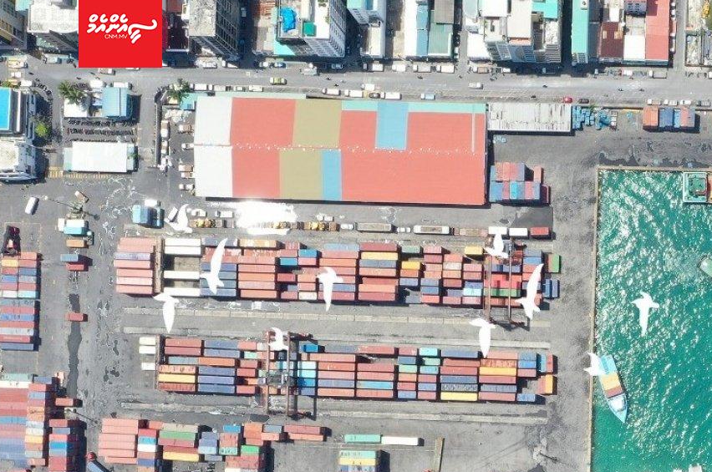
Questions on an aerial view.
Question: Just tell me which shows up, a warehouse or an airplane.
warehouse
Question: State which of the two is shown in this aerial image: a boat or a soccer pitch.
boat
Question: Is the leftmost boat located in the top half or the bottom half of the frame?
bottom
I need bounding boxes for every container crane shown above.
[266,331,307,418]
[488,227,520,333]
